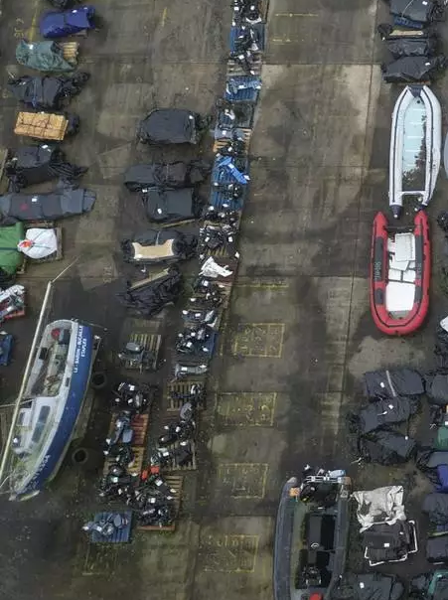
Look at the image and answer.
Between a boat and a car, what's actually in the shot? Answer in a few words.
boat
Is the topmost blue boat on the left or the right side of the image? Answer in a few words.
left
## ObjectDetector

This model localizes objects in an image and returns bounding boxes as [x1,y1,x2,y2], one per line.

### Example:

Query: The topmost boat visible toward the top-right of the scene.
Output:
[379,0,448,28]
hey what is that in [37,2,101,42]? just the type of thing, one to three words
boat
